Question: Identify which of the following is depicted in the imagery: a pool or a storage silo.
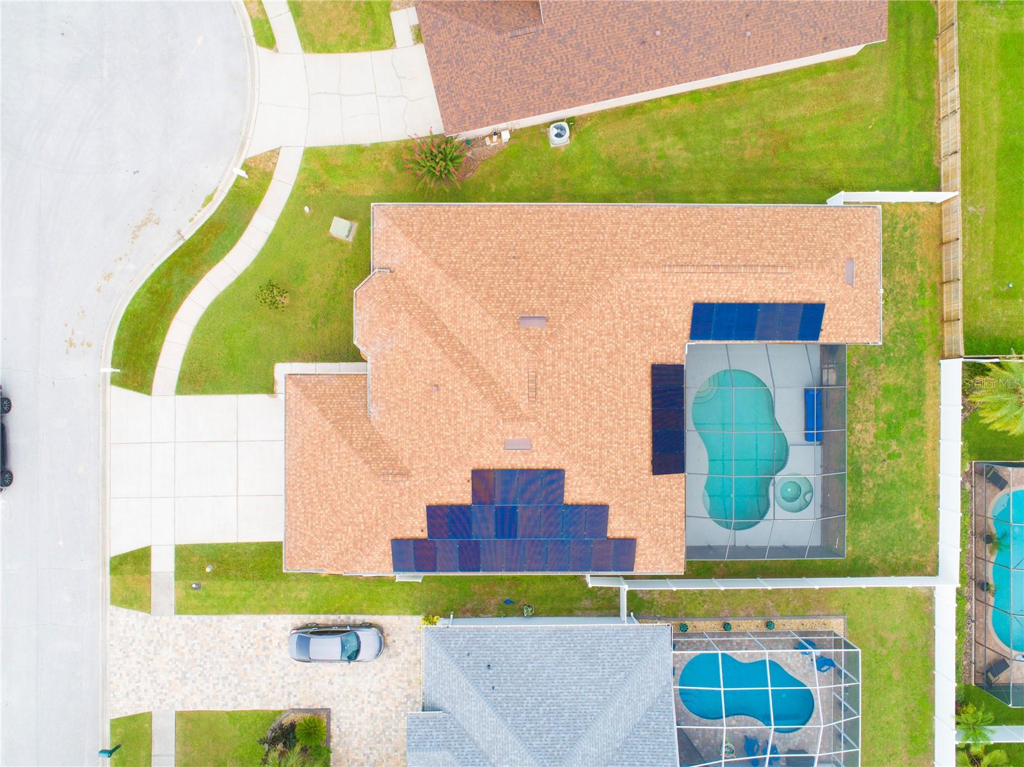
pool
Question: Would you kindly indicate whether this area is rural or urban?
urban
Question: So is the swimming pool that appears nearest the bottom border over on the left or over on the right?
right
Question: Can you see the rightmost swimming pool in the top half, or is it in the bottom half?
bottom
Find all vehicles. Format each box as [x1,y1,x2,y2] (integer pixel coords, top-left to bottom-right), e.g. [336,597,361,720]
[0,387,12,499]
[288,624,384,669]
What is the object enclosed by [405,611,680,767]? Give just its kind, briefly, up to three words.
house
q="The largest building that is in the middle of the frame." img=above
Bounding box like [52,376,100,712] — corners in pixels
[282,202,884,576]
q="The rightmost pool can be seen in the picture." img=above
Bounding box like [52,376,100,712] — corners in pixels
[987,483,1024,656]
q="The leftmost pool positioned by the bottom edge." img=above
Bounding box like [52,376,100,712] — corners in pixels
[676,651,818,737]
